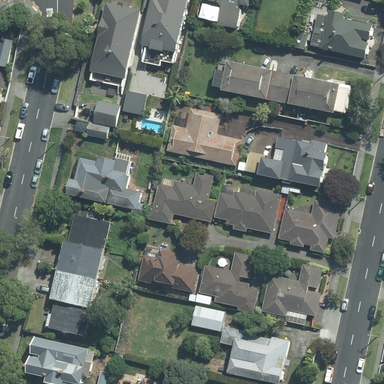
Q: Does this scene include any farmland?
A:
No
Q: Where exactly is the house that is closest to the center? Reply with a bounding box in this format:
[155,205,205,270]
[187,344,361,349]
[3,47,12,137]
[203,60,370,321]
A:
[150,172,216,224]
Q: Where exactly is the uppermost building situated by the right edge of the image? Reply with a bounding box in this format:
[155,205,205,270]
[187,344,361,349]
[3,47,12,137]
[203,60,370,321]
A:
[311,10,377,58]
